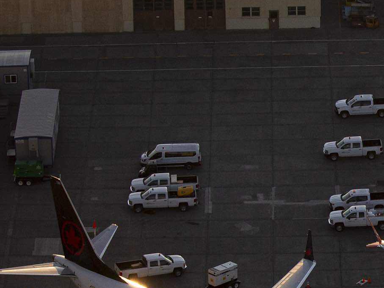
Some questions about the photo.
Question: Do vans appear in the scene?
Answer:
Yes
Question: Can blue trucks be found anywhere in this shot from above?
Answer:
No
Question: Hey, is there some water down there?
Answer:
No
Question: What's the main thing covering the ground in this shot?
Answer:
paved ground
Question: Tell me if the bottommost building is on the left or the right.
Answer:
left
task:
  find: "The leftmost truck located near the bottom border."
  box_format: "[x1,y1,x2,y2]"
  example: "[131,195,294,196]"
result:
[115,252,188,282]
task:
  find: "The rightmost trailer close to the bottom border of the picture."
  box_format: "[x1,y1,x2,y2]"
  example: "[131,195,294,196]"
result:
[196,259,243,288]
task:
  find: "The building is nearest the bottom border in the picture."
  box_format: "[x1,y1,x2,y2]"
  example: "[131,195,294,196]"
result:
[14,86,60,166]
